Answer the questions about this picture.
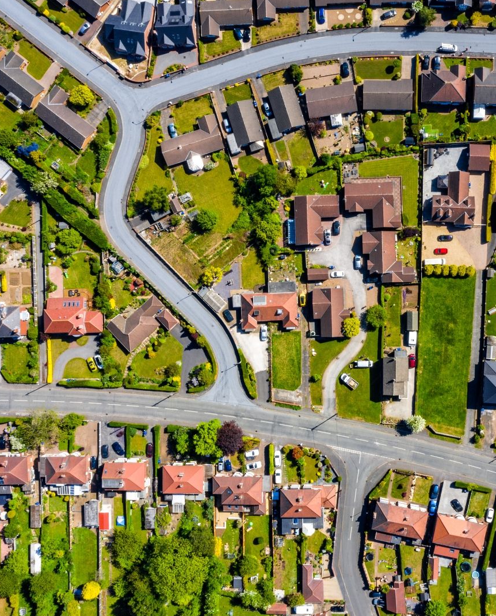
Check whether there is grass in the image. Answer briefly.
Yes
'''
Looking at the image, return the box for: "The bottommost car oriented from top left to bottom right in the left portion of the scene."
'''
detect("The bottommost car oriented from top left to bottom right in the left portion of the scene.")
[112,440,125,455]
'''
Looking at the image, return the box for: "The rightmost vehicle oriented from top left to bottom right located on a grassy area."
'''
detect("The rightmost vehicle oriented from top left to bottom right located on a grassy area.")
[340,373,359,389]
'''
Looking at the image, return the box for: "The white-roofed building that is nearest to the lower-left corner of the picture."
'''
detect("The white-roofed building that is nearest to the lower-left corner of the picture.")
[30,540,45,573]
